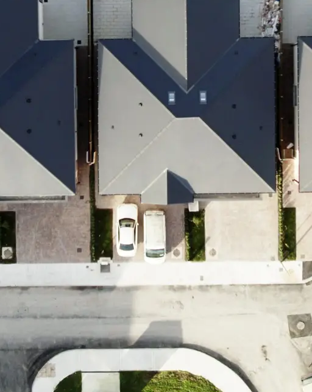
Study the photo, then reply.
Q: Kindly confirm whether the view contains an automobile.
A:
Yes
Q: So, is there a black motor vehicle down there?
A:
No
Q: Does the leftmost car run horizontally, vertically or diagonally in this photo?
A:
vertically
